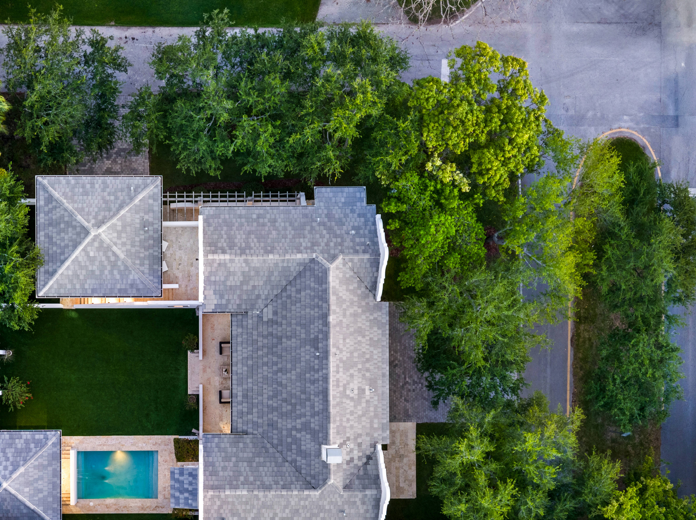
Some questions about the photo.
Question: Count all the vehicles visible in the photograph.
0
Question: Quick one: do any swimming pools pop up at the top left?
No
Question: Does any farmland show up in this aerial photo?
No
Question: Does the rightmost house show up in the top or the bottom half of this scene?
bottom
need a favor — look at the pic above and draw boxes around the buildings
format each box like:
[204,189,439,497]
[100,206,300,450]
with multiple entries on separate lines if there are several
[36,175,161,296]
[0,430,61,520]
[198,185,391,520]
